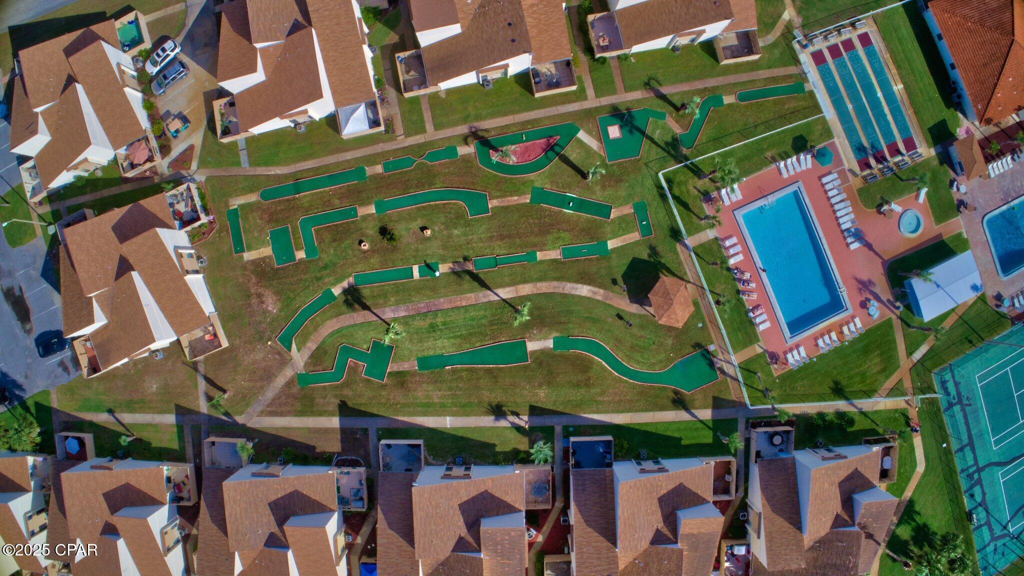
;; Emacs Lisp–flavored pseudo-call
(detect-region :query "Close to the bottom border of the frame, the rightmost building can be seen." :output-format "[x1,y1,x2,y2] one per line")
[719,427,900,576]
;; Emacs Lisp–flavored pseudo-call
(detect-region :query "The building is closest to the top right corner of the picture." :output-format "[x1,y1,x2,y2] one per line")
[918,0,1024,126]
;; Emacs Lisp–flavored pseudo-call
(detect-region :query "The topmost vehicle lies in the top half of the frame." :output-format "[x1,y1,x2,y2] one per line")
[140,36,180,72]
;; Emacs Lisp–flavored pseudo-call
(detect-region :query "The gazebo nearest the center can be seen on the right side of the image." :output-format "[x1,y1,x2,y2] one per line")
[645,276,695,328]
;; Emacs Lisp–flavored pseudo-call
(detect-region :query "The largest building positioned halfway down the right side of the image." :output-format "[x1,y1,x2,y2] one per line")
[899,250,984,322]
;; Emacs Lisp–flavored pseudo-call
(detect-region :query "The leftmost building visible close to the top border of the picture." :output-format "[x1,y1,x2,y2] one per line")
[9,10,162,202]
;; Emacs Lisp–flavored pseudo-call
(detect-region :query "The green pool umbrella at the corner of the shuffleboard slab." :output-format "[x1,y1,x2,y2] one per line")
[812,145,835,169]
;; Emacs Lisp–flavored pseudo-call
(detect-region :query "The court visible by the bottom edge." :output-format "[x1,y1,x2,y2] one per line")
[999,458,1024,551]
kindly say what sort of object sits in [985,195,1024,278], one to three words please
swimming pool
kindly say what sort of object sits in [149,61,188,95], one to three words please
car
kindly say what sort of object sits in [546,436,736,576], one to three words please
house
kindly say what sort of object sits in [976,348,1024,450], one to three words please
tennis court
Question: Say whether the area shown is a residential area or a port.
residential area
